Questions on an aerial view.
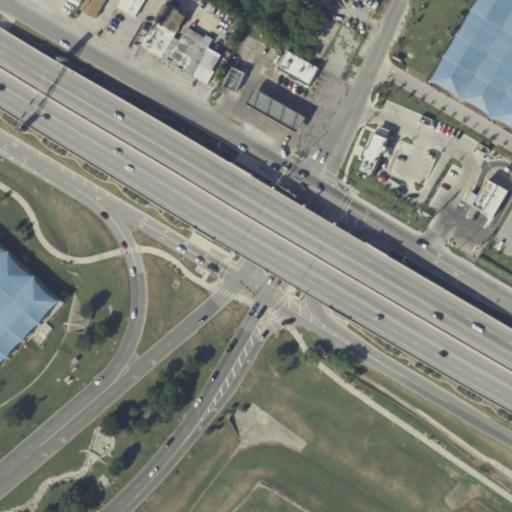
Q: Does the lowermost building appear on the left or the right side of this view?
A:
left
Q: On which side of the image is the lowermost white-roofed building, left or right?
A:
right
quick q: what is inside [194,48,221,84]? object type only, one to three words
building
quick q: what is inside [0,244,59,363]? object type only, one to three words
building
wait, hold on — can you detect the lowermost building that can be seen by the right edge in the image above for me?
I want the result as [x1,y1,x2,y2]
[474,180,508,217]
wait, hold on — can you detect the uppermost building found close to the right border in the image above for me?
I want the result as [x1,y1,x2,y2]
[428,0,512,130]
